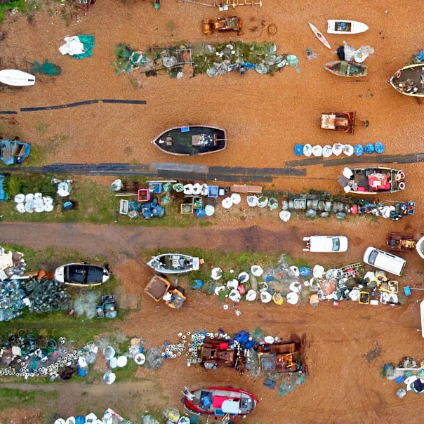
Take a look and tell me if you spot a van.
Yes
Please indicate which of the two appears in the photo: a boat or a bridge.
boat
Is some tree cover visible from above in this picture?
No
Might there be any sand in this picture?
Yes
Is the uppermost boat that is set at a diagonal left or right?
right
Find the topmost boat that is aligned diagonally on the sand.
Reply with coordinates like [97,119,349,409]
[308,22,331,49]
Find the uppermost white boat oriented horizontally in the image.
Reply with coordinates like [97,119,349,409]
[328,20,369,35]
